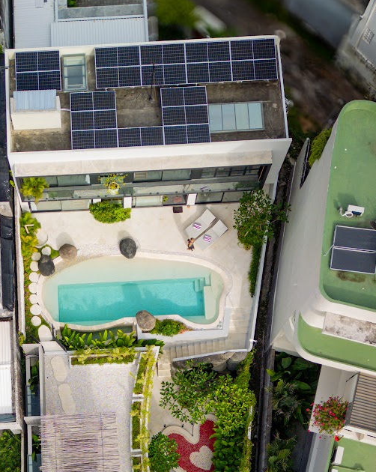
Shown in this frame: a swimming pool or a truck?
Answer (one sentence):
Looking from above, you can make out a swimming pool.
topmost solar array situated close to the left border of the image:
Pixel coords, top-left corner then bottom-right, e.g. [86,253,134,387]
[15,48,63,91]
